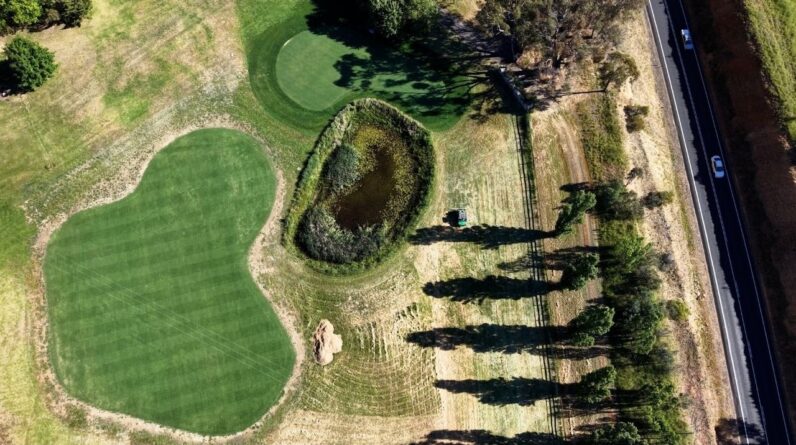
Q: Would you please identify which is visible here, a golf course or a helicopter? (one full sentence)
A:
Of the two, only a golf course appears.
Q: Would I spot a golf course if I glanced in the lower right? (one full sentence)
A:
No, in the lower right there is no golf course.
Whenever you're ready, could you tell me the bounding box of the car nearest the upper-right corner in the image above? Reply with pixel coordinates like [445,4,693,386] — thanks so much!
[680,30,693,49]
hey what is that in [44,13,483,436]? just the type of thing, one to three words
golf course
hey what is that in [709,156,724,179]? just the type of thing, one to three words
car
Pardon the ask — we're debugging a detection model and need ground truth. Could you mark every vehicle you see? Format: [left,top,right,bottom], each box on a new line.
[709,156,724,179]
[455,208,466,229]
[680,30,693,49]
